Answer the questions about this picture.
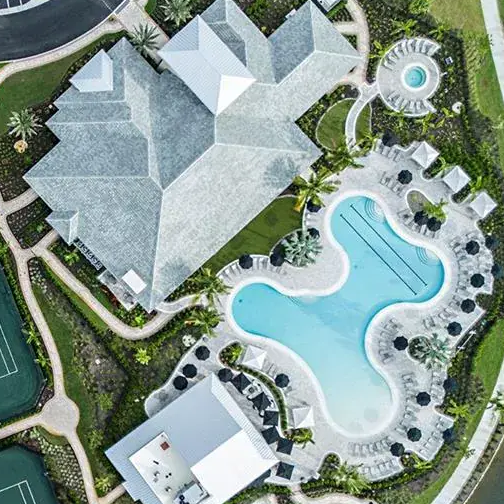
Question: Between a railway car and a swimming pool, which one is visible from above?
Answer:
swimming pool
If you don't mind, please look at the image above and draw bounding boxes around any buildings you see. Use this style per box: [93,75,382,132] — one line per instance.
[105,374,279,504]
[24,0,364,312]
